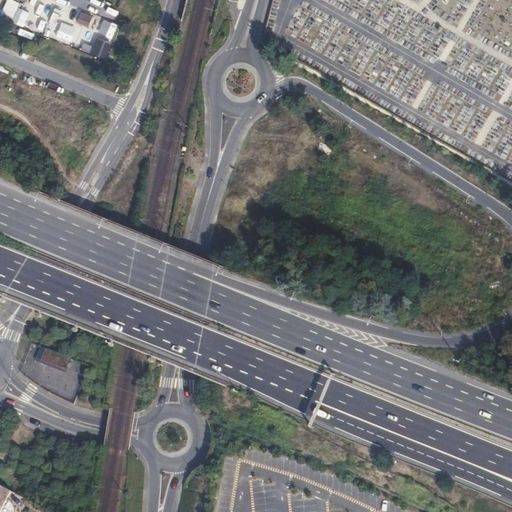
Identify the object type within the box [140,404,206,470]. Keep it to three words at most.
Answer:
roundabout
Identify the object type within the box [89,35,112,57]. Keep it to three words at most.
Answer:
house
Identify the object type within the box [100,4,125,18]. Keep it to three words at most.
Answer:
camper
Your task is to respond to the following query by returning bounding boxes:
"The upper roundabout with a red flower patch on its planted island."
[207,48,276,118]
